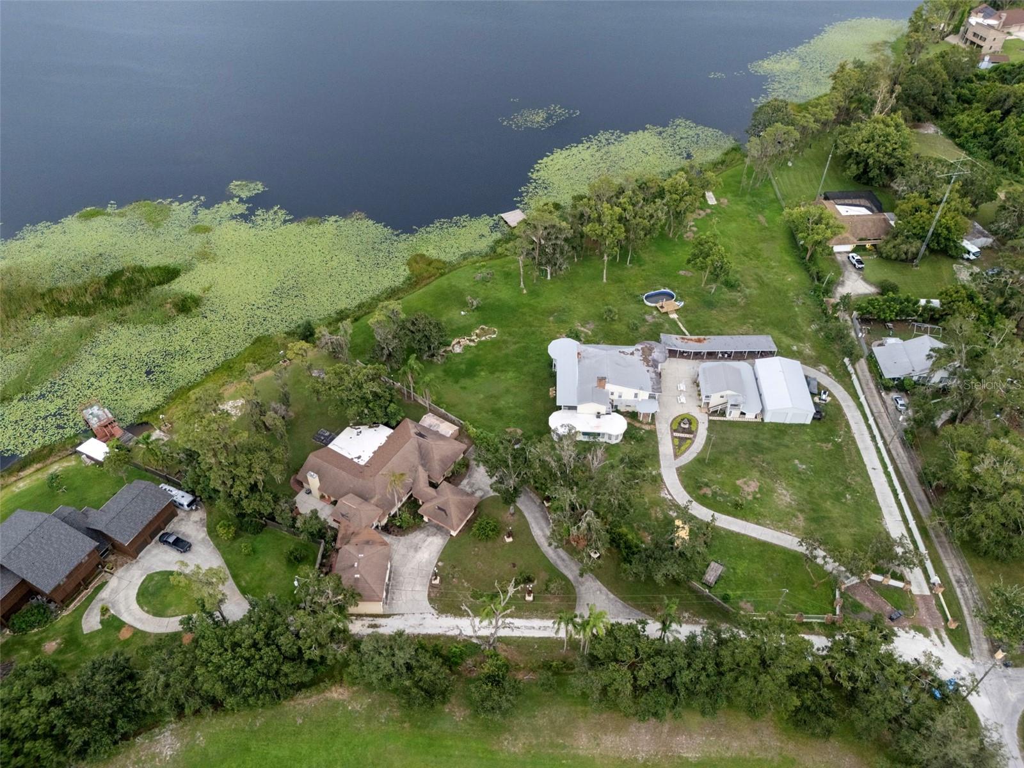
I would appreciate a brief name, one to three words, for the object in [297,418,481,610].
house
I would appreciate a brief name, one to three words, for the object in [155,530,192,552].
truck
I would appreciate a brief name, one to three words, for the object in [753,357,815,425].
building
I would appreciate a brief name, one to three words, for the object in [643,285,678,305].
swimming pool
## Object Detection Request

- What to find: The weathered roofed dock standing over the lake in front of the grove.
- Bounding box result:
[501,209,531,237]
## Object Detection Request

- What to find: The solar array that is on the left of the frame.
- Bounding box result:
[313,427,337,446]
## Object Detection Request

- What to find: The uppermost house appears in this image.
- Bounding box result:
[953,4,1024,54]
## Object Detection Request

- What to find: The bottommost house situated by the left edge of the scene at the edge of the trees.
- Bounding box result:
[0,481,179,626]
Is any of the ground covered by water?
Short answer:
Yes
